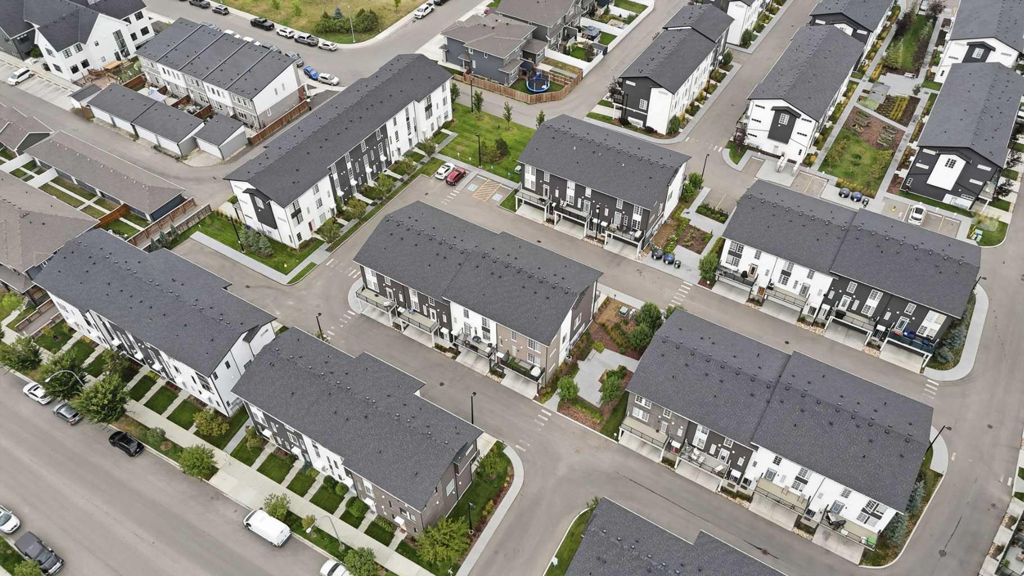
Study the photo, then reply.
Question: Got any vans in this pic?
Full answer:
Yes, the photo shows a van.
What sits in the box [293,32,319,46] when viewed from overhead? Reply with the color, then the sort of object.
gray vehicle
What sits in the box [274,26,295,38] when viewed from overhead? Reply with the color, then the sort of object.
white vehicle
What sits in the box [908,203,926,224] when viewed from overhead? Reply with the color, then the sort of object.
white car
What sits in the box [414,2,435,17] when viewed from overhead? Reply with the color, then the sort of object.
white vehicle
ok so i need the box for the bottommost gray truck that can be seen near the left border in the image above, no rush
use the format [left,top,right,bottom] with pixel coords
[12,536,62,574]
